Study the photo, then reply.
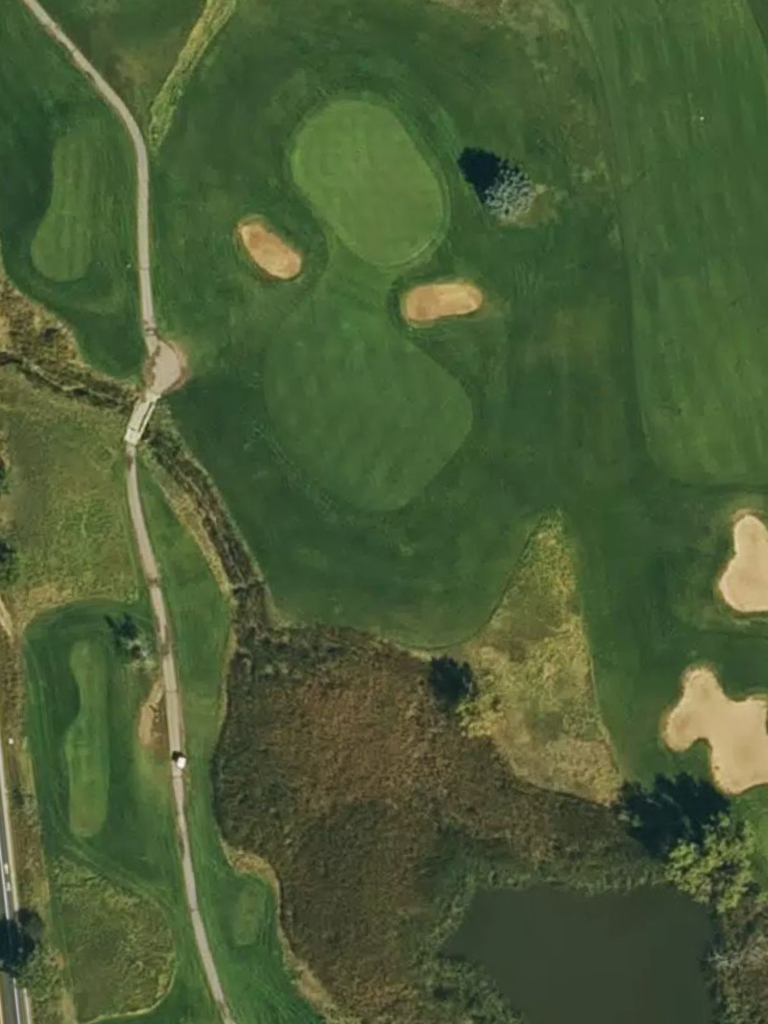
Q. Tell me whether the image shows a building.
No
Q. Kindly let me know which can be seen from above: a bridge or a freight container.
bridge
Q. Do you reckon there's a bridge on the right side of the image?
No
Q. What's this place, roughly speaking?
golf course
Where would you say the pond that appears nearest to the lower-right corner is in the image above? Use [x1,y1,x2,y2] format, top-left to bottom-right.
[441,881,710,1024]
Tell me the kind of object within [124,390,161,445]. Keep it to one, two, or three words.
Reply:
bridge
